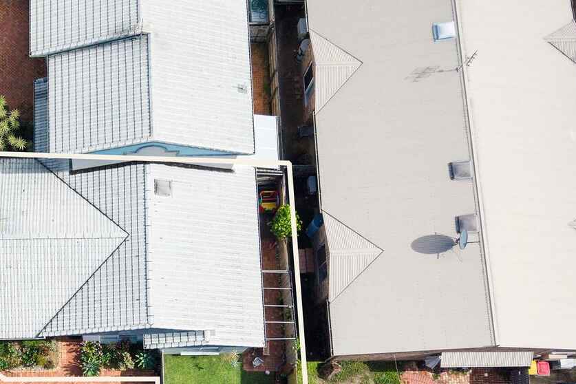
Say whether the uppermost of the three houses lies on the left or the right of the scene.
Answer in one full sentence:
You can find the uppermost of the three houses on the left side of the picture.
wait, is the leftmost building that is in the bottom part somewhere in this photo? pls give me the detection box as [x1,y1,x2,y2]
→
[0,157,268,357]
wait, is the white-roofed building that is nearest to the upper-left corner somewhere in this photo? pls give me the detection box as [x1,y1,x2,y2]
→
[26,0,257,172]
